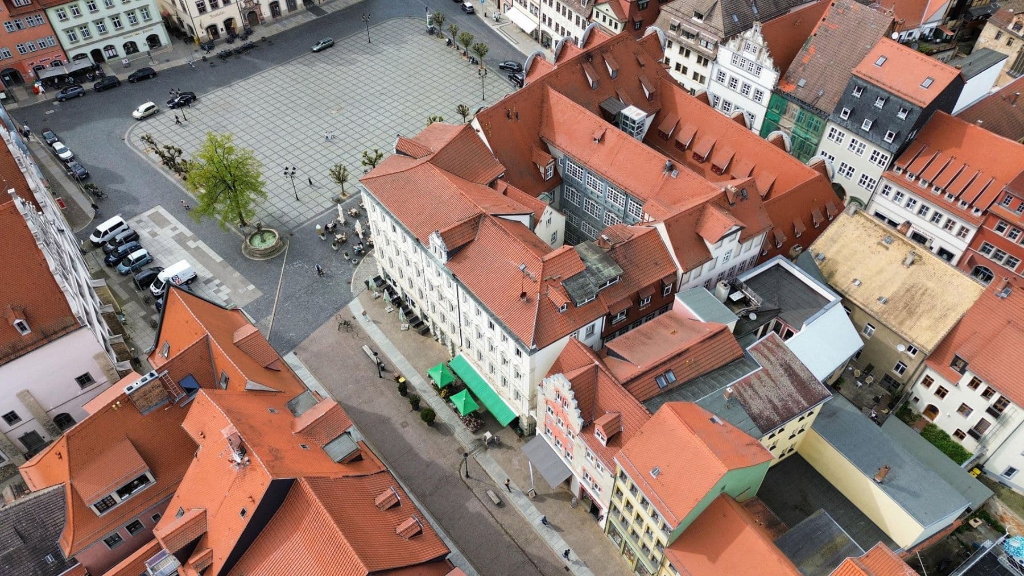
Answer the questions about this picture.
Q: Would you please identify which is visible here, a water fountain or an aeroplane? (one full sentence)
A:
There is a water fountain in the scene.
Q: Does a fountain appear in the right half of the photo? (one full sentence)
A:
No, looking in the right half of the photo, there is no fountain.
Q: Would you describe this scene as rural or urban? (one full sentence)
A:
The area shown here is urban.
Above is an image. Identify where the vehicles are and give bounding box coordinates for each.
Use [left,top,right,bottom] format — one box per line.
[62,155,88,177]
[91,73,121,91]
[39,124,60,143]
[310,34,335,50]
[128,264,165,289]
[126,64,156,81]
[508,73,525,88]
[148,260,197,297]
[87,213,130,243]
[102,239,141,265]
[115,251,151,276]
[166,91,196,107]
[99,226,139,252]
[131,101,159,118]
[498,60,524,72]
[54,80,85,99]
[49,140,73,159]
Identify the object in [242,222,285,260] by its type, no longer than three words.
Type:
fountain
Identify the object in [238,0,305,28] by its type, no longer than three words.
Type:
house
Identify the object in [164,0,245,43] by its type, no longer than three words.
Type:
house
